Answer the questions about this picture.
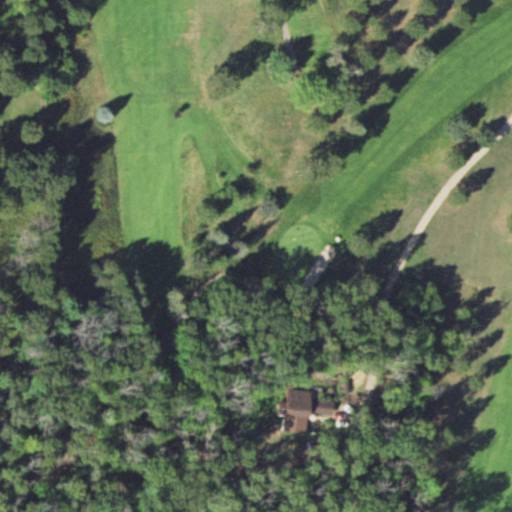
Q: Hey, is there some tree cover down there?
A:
Yes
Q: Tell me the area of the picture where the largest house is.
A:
bottom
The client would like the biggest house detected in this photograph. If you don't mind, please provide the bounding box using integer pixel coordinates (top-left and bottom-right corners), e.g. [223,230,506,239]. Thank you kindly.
[280,390,312,434]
